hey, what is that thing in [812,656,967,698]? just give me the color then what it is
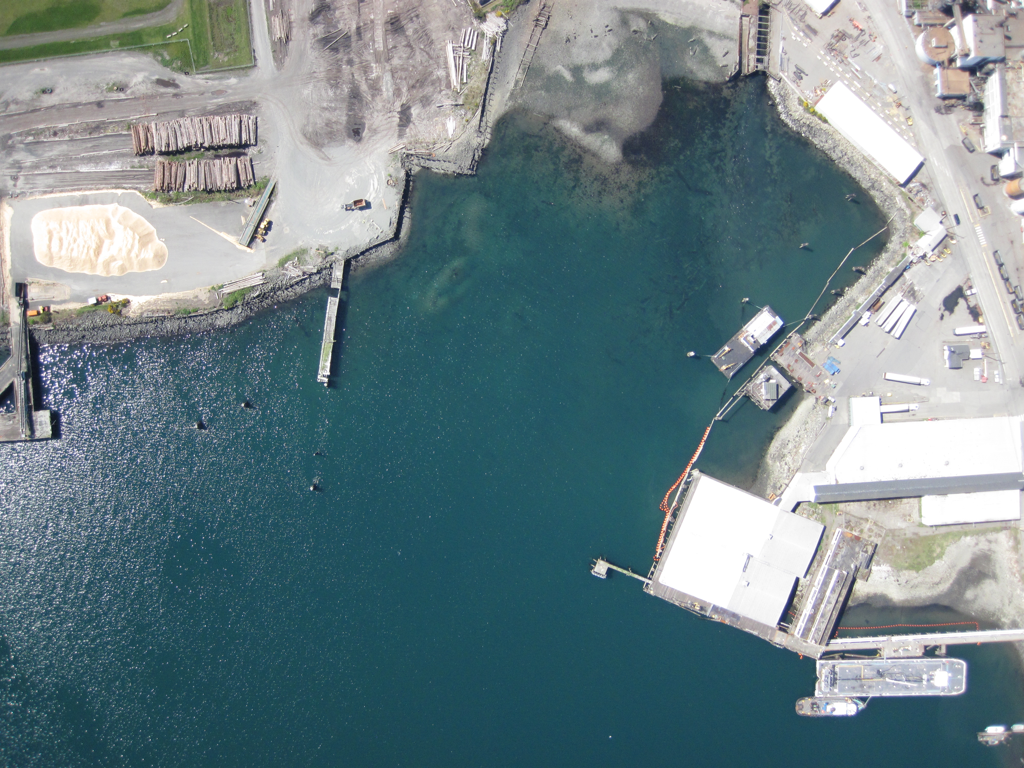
white ship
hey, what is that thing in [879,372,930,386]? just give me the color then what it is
white vehicle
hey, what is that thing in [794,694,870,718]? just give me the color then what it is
white boat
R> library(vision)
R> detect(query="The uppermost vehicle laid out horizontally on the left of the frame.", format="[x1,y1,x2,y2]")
[341,198,366,211]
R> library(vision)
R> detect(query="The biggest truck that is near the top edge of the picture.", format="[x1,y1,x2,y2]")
[846,13,867,35]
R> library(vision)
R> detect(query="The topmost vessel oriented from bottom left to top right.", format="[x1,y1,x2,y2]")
[710,306,785,378]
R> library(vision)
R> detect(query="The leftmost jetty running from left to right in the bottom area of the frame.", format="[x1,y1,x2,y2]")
[591,555,648,582]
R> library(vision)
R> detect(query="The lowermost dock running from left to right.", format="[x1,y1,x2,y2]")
[824,625,1024,657]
